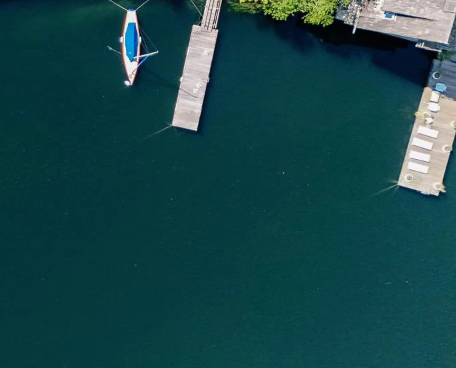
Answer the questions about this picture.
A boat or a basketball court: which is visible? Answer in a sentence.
This aerial view contains a boat.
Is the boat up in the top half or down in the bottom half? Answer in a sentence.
The top half of the photo is where the boat is.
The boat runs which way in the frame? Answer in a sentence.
What the image shows is the boat lying up and down.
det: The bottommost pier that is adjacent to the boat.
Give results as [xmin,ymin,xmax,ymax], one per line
[172,24,218,131]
